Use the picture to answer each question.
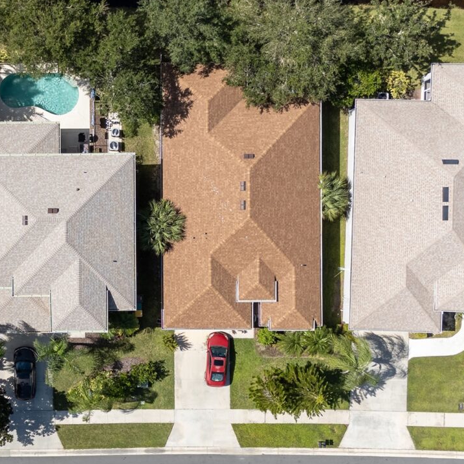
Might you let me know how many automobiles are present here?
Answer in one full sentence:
There are 2 automobiles in the image.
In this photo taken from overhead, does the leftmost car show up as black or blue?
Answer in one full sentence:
The leftmost car is black.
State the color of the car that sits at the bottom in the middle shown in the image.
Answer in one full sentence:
The color of the car that sits at the bottom in the middle is red.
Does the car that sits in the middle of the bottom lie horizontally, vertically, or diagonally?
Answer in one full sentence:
The car that sits in the middle of the bottom runs vertically in the image.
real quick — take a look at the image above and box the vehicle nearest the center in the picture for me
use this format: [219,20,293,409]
[204,332,233,387]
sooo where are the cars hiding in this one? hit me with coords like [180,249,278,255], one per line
[204,332,233,387]
[11,346,39,400]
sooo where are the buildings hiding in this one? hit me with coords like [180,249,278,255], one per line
[0,120,137,334]
[161,62,323,332]
[340,62,464,333]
